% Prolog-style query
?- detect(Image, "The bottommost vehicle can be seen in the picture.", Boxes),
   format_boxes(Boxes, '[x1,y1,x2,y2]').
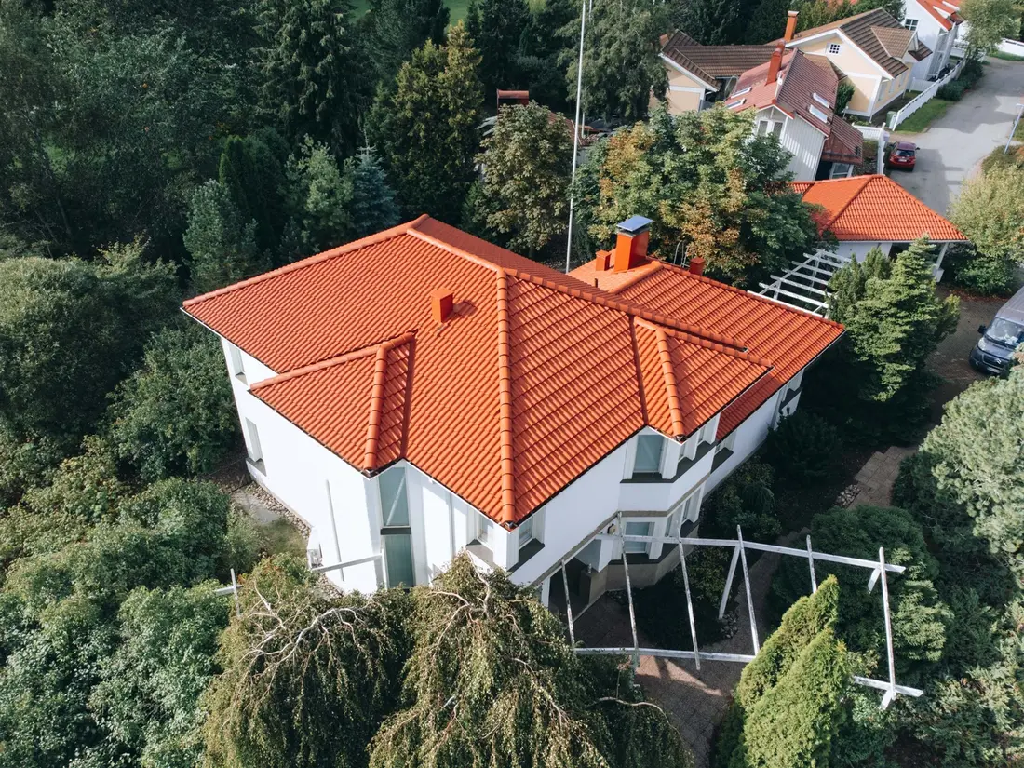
[973,284,1024,383]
